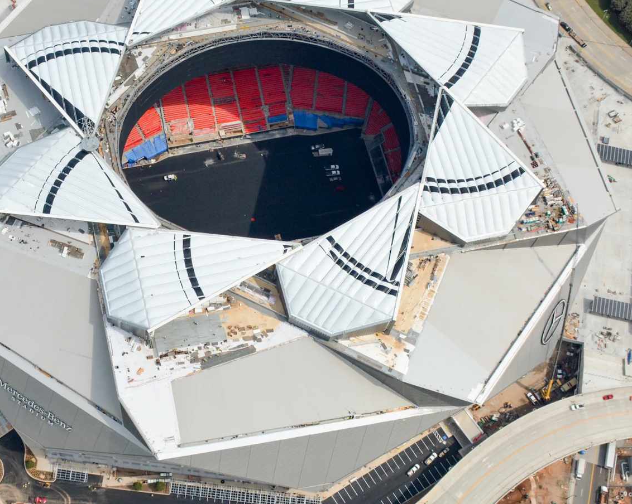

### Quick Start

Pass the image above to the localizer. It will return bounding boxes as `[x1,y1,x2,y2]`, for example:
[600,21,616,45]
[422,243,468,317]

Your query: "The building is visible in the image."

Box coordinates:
[441,413,486,453]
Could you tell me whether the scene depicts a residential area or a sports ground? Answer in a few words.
sports ground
